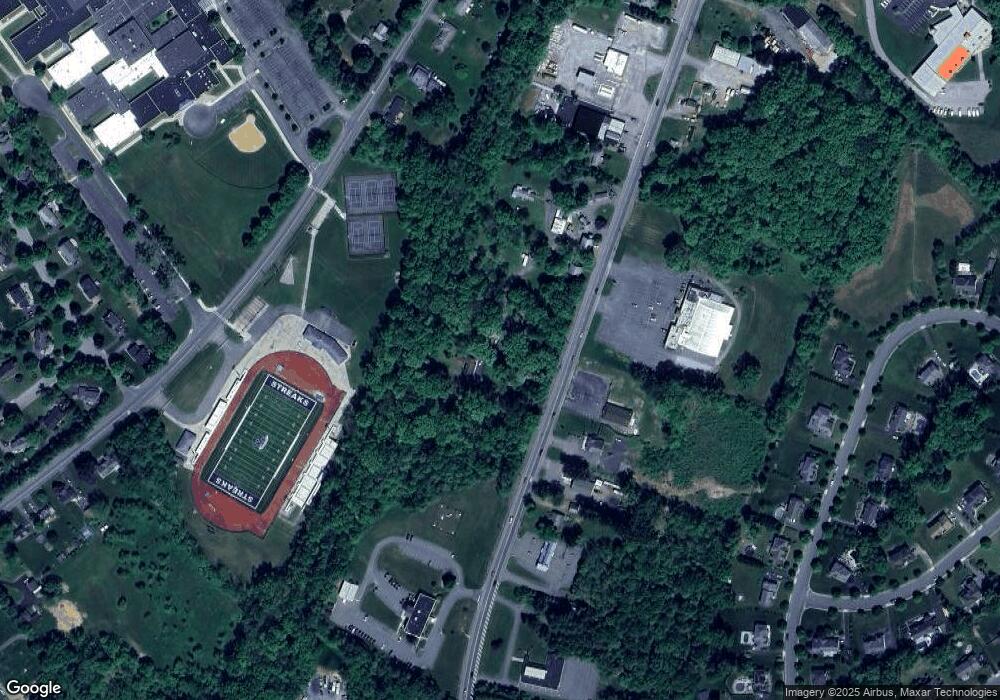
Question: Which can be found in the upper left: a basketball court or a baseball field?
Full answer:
Visible in the upper left is a baseball field.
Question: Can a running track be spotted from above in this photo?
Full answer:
Yes, the photo shows a running track.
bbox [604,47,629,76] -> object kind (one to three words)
building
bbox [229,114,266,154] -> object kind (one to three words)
baseball field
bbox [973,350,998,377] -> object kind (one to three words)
house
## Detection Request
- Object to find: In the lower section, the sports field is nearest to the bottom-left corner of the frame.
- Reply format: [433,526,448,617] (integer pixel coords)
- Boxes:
[201,370,323,513]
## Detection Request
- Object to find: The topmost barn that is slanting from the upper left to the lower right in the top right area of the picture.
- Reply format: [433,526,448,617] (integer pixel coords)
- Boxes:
[783,6,833,54]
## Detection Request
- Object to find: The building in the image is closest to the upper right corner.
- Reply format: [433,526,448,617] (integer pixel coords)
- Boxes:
[913,4,993,97]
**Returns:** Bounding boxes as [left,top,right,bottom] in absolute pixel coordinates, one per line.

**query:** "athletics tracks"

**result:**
[192,350,344,537]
